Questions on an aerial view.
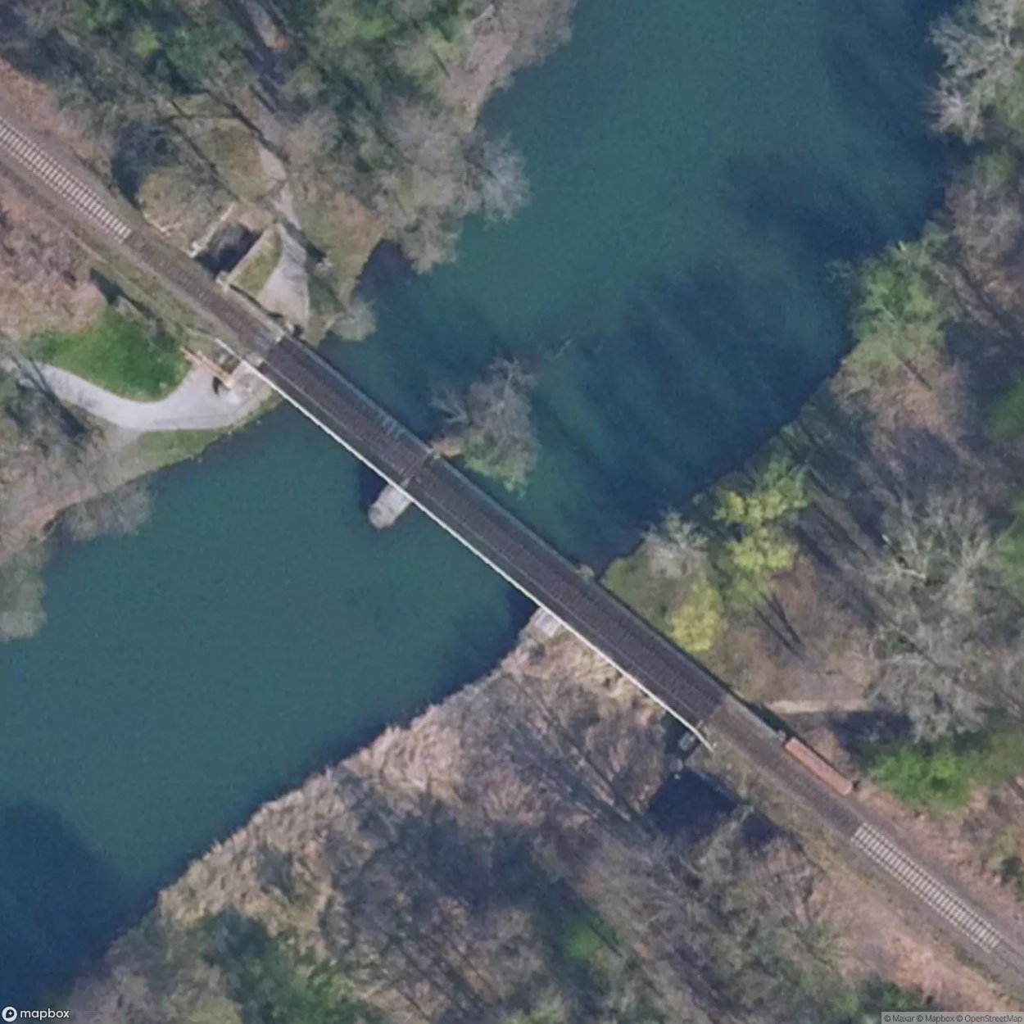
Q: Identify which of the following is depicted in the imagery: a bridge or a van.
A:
bridge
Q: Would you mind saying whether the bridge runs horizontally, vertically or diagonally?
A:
diagonally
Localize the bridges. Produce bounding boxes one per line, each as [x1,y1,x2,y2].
[217,284,796,787]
